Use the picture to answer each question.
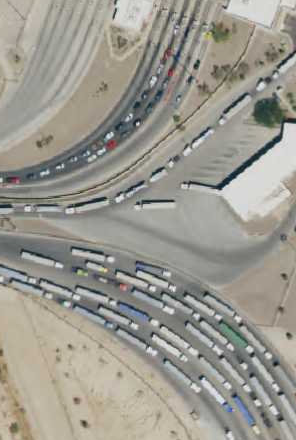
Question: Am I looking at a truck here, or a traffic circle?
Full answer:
Visible in the photo is a truck.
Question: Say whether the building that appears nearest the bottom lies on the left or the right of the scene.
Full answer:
The building that appears nearest the bottom appears in the right half of the scene.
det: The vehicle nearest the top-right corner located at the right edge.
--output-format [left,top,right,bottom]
[272,54,296,80]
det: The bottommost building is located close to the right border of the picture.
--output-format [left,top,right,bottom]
[222,122,296,221]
